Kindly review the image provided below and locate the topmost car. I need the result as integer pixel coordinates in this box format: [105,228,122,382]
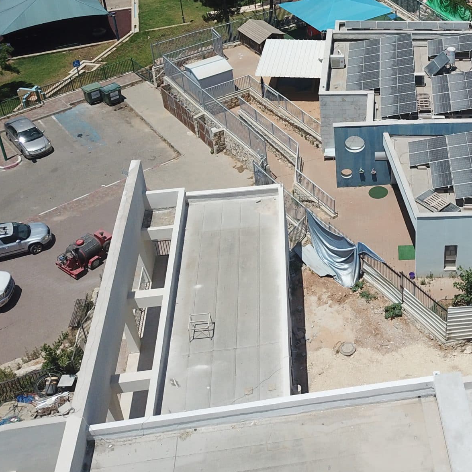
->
[1,114,51,158]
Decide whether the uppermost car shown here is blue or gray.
gray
